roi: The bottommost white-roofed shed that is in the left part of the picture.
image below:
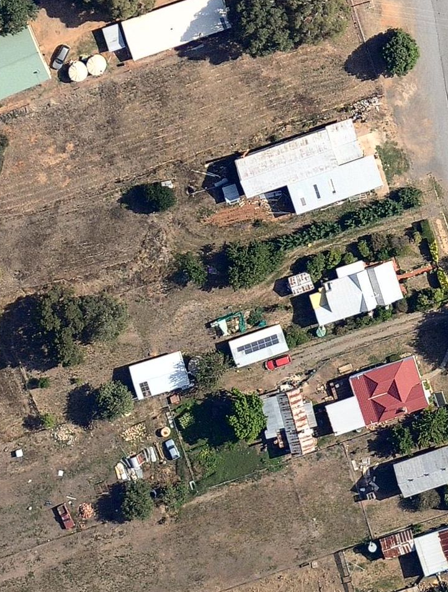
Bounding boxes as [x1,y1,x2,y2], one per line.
[129,351,190,400]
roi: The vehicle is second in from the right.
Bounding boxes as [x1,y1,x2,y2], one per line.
[165,437,180,462]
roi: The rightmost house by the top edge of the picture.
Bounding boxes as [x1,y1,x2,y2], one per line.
[121,0,230,60]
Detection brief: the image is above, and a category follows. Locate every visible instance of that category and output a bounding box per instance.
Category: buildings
[310,261,404,326]
[0,27,50,99]
[129,351,190,400]
[289,272,313,295]
[229,324,289,368]
[263,388,318,457]
[102,23,125,51]
[414,526,448,577]
[326,357,431,436]
[121,0,230,60]
[381,529,415,559]
[223,184,240,204]
[235,119,383,214]
[393,445,448,498]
